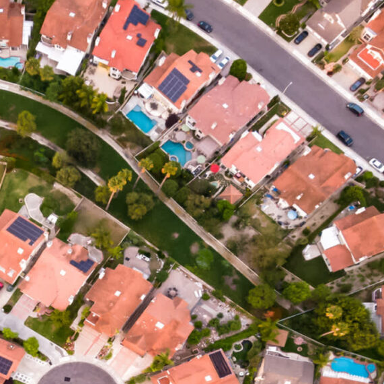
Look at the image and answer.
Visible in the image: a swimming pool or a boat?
swimming pool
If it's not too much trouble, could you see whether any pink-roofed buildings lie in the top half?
Yes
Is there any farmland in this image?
No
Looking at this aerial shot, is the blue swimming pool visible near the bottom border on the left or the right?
right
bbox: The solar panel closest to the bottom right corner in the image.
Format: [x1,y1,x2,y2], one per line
[209,348,232,377]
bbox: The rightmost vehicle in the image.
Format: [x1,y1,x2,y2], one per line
[369,159,384,173]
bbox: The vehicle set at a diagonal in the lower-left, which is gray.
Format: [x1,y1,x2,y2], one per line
[2,280,19,295]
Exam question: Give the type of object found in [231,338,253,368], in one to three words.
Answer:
swimming pool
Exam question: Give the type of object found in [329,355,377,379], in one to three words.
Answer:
swimming pool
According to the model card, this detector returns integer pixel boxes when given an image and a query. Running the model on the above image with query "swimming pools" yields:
[160,138,195,167]
[231,338,253,368]
[329,355,377,379]
[0,56,25,71]
[125,104,159,135]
